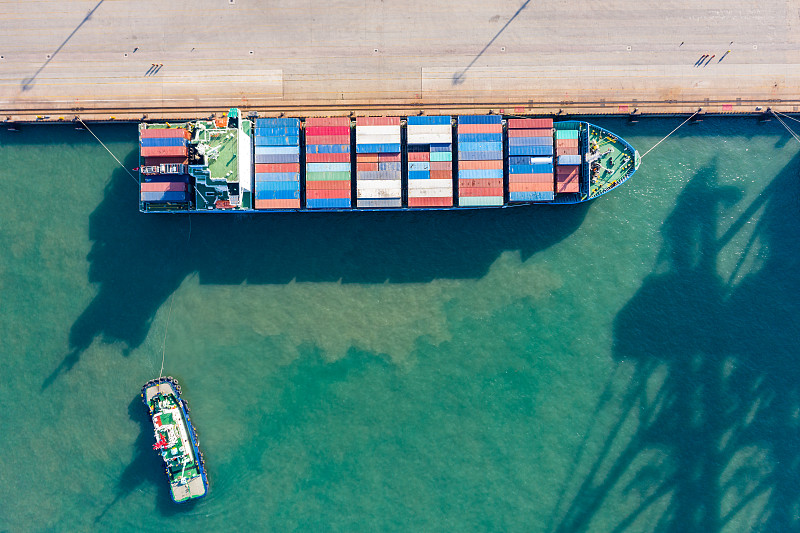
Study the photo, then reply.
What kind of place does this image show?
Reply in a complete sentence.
This image shows a port.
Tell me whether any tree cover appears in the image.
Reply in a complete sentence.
No, there is no tree cover in the image.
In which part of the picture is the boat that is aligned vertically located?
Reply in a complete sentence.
The boat that is aligned vertically sits in the bottom left section of the image.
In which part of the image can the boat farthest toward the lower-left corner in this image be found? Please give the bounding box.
[144,375,209,500]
